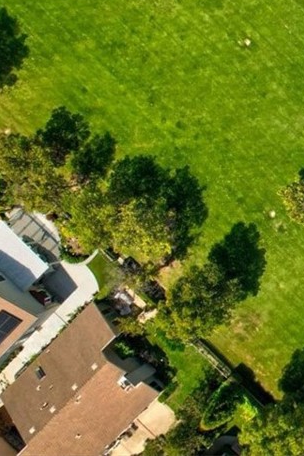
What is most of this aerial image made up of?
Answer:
grass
